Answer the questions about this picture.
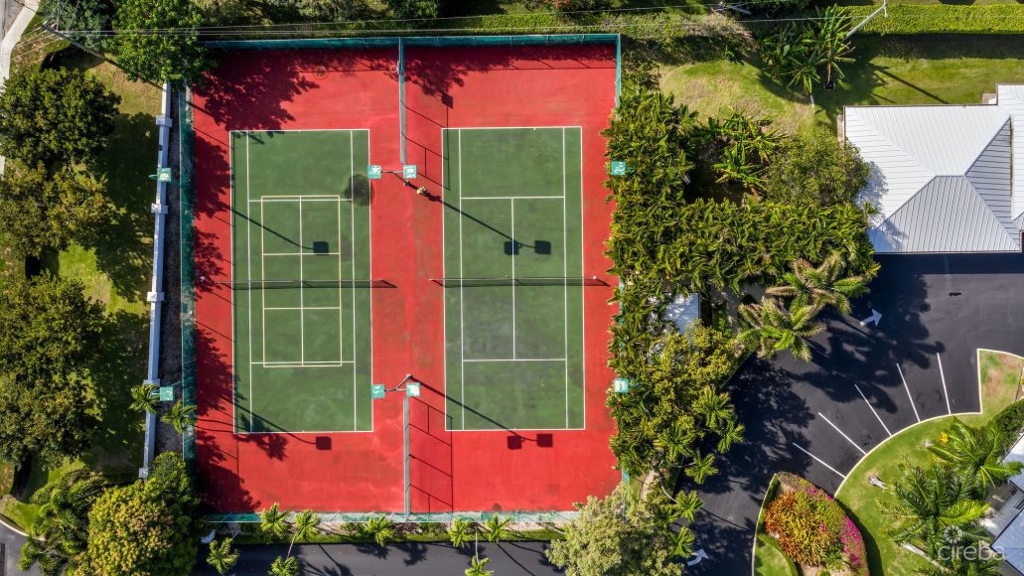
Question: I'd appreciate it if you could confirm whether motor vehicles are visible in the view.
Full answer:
No, no motor vehicle can be seen from above.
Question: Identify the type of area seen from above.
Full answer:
The picture captures a sports ground.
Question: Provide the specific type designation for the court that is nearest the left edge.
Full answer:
I'd identify the court that is nearest the left edge as a tennis court.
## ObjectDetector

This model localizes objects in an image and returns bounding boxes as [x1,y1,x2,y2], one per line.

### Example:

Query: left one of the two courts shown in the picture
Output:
[193,47,415,513]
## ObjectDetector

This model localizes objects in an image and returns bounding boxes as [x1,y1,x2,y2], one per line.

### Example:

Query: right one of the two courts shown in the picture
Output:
[412,44,623,513]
